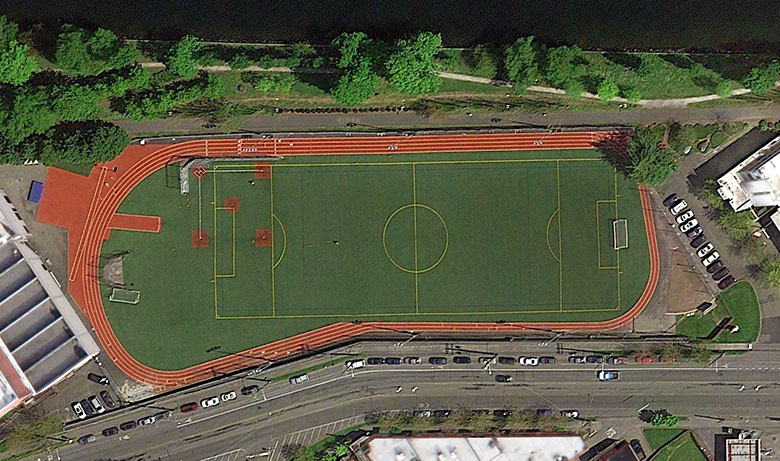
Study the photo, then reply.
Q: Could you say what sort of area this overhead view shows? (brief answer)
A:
sports ground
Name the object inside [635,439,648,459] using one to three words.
vehicle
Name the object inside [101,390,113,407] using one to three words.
vehicle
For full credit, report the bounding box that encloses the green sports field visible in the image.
[99,149,650,371]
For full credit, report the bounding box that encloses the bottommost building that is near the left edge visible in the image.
[0,242,100,419]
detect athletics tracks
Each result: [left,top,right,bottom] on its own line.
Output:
[37,131,660,394]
